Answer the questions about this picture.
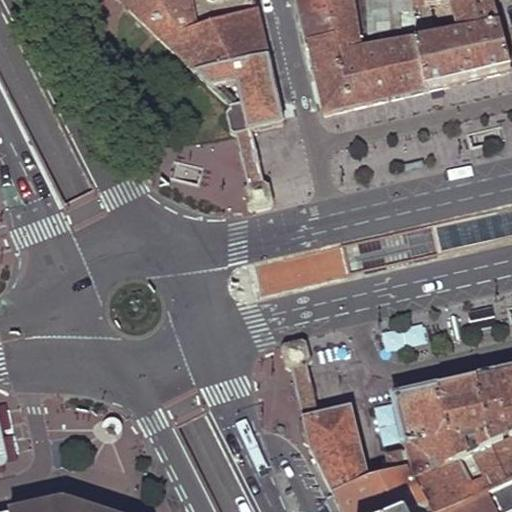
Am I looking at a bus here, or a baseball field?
bus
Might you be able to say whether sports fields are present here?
No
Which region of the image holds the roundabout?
left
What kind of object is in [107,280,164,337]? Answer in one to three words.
roundabout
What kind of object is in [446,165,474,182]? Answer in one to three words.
vehicle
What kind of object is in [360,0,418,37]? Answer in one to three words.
building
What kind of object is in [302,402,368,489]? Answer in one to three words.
house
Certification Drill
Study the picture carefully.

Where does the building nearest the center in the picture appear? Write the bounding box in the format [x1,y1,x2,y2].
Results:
[247,180,273,213]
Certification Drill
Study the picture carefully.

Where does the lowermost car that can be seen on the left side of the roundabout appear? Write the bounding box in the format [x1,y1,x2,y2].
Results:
[72,277,93,292]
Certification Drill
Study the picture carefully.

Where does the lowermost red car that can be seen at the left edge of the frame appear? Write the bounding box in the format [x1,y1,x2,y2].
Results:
[16,176,32,199]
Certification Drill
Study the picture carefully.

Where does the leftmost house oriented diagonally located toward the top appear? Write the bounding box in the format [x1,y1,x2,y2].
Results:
[122,0,228,66]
